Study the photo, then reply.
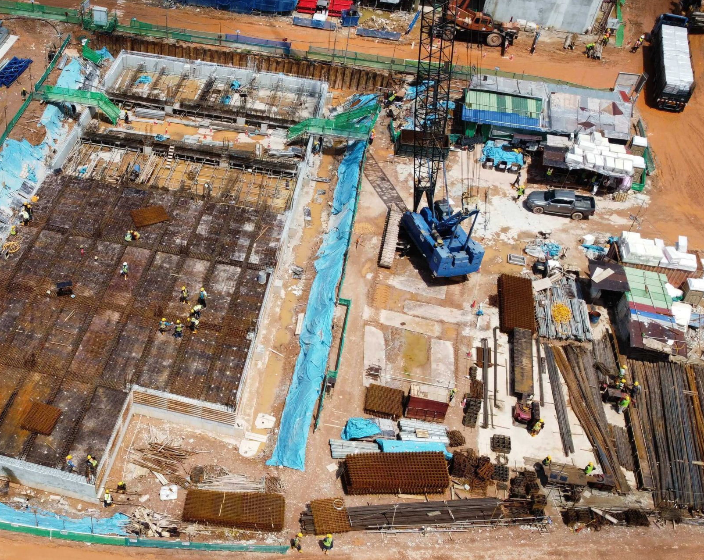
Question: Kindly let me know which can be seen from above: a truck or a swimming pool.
truck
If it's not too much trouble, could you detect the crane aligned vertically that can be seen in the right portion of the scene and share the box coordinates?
[375,0,482,285]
